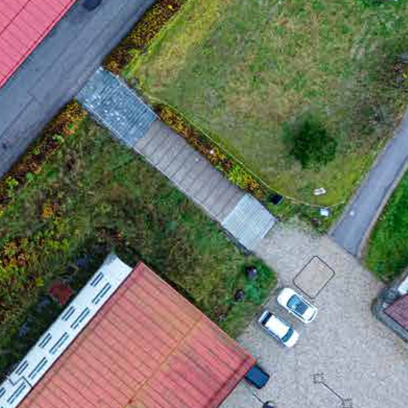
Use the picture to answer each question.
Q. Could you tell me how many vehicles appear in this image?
3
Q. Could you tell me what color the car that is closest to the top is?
white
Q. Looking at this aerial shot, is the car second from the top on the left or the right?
right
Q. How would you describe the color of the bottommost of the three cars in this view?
blue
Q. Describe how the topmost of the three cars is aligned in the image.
on a diagonal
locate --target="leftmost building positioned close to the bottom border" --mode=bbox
[0,250,255,408]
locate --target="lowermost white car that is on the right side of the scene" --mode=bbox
[261,313,302,348]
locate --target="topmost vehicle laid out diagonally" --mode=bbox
[280,290,321,326]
